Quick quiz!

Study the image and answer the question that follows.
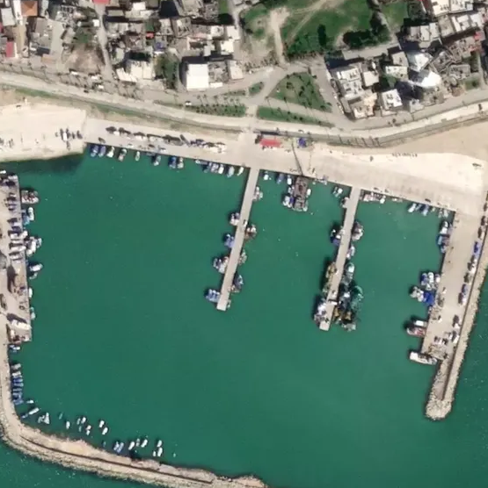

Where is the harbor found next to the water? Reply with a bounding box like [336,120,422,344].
[0,101,488,360]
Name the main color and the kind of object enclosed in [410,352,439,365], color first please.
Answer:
white boat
